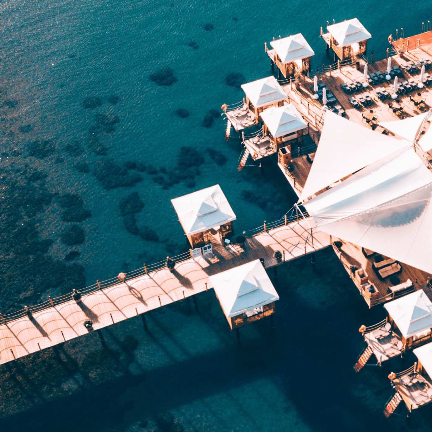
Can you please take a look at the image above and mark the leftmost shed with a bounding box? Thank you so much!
[171,185,238,254]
